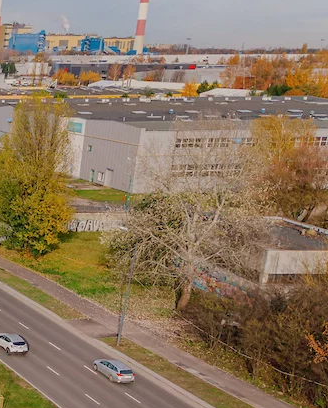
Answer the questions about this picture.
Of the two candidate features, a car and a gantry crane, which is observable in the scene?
car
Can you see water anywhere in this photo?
No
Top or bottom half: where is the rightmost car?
bottom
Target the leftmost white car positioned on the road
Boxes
[0,333,33,355]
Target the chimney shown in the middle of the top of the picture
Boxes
[134,0,148,53]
